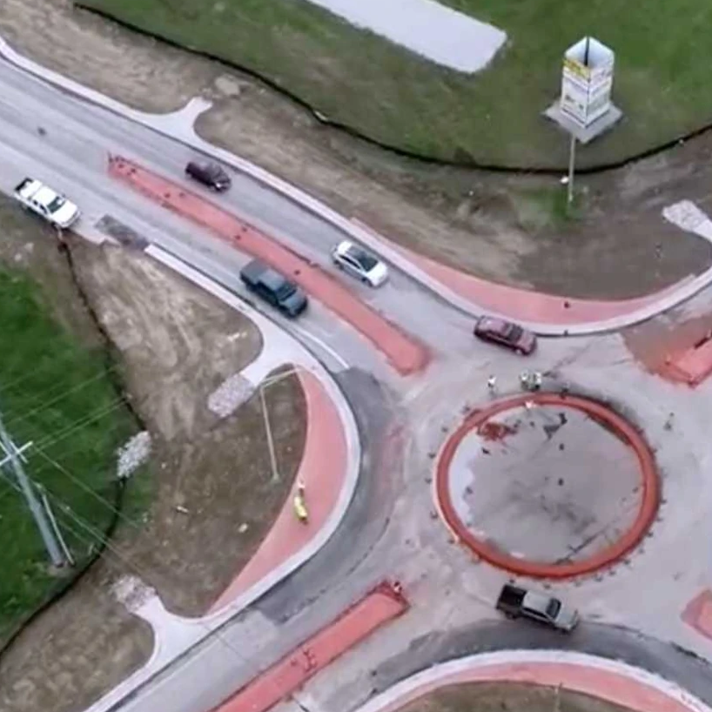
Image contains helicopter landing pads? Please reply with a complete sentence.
No, no helicopter landing pad can be seen from above.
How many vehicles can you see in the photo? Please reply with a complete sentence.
The photo contains 6 vehicles.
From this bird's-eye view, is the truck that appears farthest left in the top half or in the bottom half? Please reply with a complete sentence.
The truck that appears farthest left sits in the top half of the picture.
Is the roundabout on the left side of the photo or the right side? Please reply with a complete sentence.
You can find the roundabout on the right side of the picture.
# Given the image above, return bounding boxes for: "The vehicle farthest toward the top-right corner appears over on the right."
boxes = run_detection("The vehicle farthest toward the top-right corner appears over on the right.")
[472,316,539,359]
